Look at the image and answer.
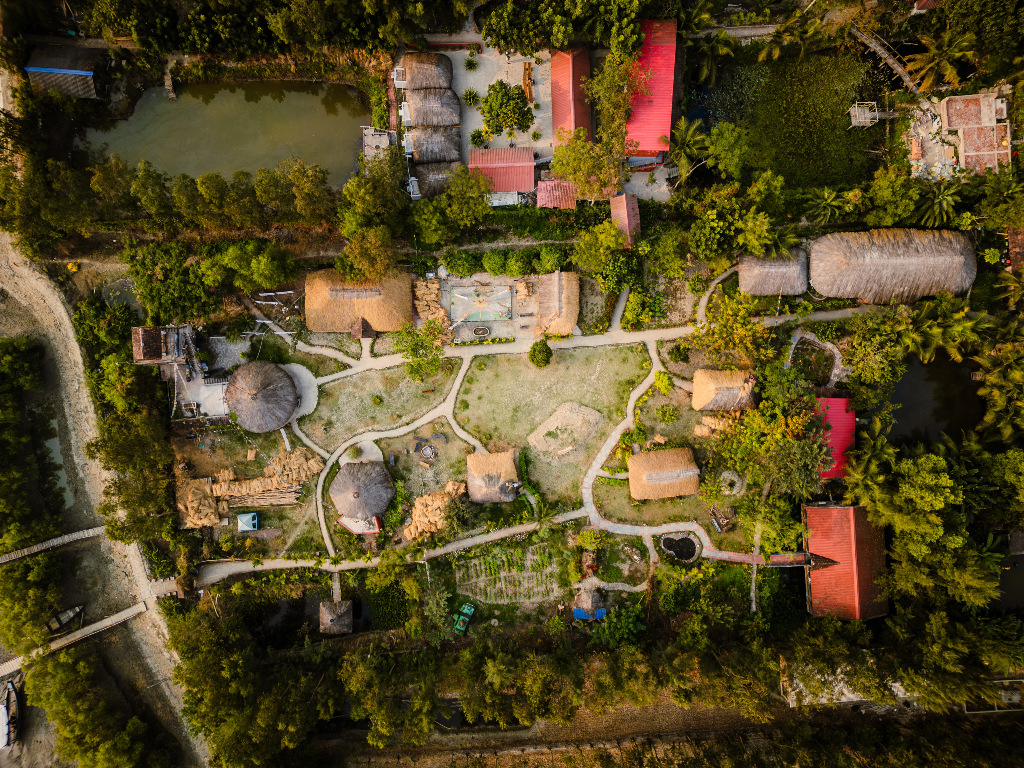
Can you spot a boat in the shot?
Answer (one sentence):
Yes, there's a boat down there.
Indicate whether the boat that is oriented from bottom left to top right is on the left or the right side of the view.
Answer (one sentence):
You can find the boat that is oriented from bottom left to top right on the left side of the picture.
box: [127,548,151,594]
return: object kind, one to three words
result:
bridge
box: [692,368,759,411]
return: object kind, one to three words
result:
shed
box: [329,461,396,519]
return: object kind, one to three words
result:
building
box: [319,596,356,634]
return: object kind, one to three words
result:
gazebo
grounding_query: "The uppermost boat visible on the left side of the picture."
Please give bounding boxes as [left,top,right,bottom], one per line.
[53,602,90,633]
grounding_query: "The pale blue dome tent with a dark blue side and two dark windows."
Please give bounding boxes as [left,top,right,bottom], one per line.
[237,513,259,532]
